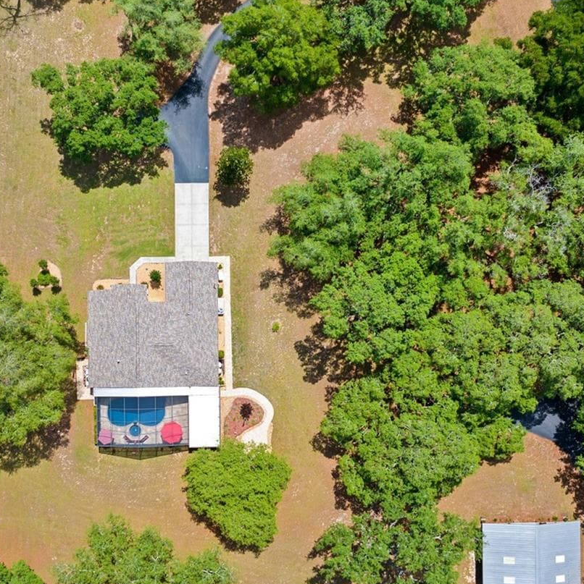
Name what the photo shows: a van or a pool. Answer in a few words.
pool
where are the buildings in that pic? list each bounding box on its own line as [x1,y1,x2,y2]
[85,260,218,388]
[476,522,582,584]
